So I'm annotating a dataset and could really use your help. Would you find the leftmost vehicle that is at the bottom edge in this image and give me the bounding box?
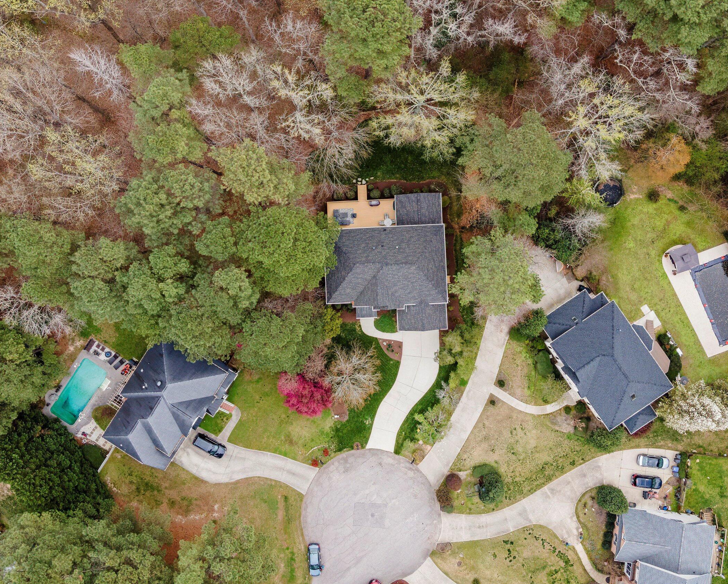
[306,544,324,578]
